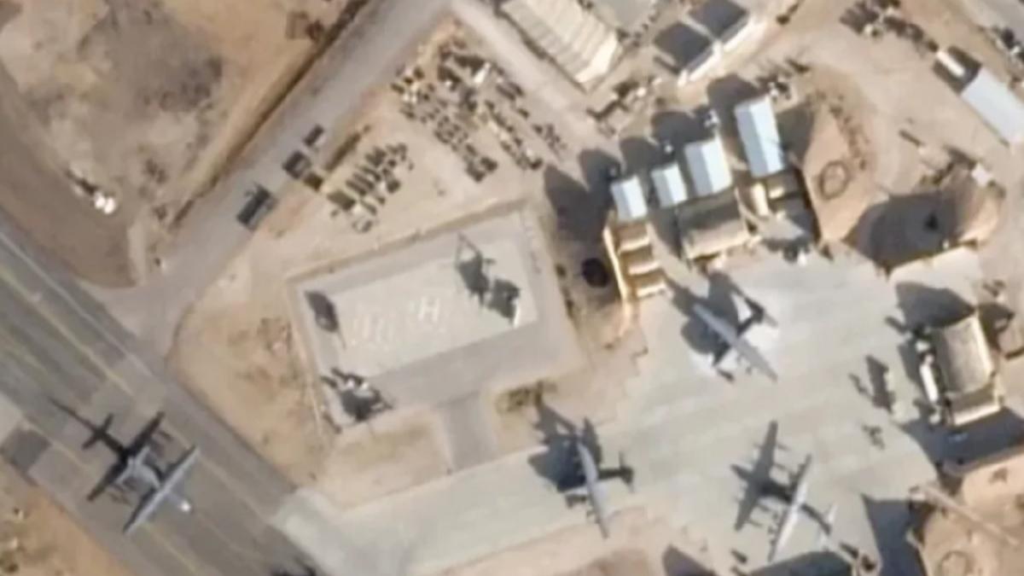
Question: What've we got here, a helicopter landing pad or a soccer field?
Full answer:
Of the two, only a helicopter landing pad appears.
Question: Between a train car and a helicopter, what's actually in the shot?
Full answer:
The image shows a helicopter.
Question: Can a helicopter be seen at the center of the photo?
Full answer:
Yes, I can see a helicopter at the center of the photo.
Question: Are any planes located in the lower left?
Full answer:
Yes, looking in the lower left, one can make out a plane.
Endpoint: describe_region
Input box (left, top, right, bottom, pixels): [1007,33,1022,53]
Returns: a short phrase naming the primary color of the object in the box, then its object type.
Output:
gray vehicle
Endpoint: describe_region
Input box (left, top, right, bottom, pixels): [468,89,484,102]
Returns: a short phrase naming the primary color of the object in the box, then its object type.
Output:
gray vehicle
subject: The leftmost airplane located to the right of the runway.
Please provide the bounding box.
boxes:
[562,432,643,541]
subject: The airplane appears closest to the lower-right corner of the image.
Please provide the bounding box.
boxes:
[759,456,840,562]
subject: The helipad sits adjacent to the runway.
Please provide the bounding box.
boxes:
[295,212,583,473]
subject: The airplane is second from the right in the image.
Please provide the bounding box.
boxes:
[692,295,781,381]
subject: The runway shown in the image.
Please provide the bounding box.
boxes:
[0,216,363,576]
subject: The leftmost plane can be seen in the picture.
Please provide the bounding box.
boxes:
[113,445,199,533]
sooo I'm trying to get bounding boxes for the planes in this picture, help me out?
[759,456,840,562]
[692,295,781,381]
[113,445,199,533]
[562,432,643,541]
